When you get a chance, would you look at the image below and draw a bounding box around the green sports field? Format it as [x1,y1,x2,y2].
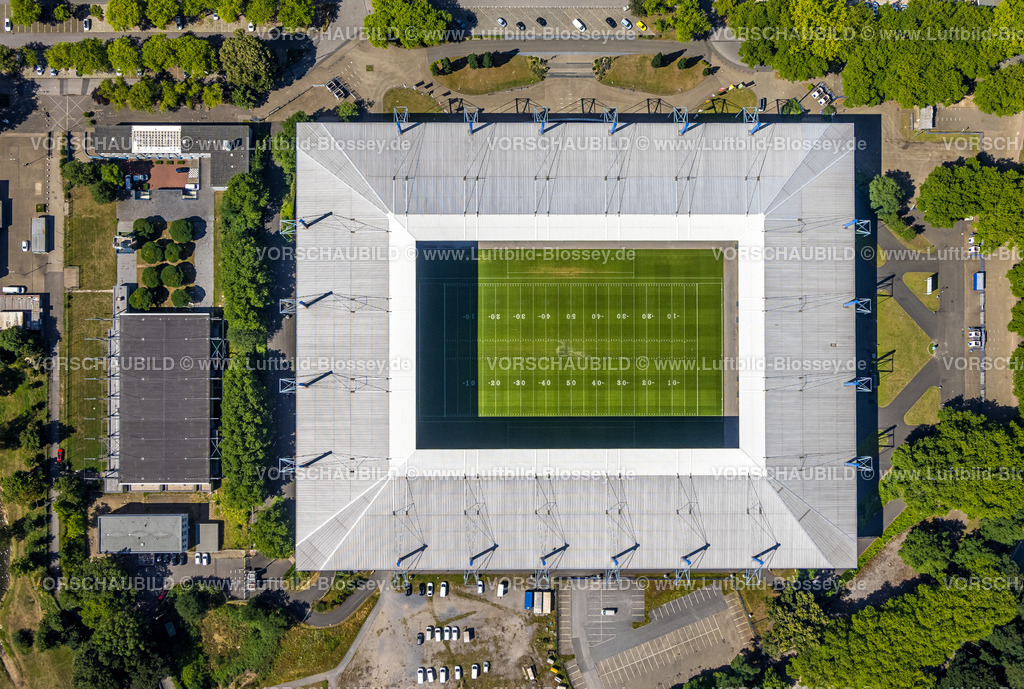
[416,241,738,448]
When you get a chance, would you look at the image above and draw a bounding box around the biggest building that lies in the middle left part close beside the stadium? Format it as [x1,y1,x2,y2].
[84,287,229,493]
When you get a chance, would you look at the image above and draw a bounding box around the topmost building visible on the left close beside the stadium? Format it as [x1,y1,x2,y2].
[95,126,253,191]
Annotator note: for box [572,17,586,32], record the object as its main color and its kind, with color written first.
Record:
white vehicle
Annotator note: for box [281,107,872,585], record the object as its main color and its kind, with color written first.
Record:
white stadium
